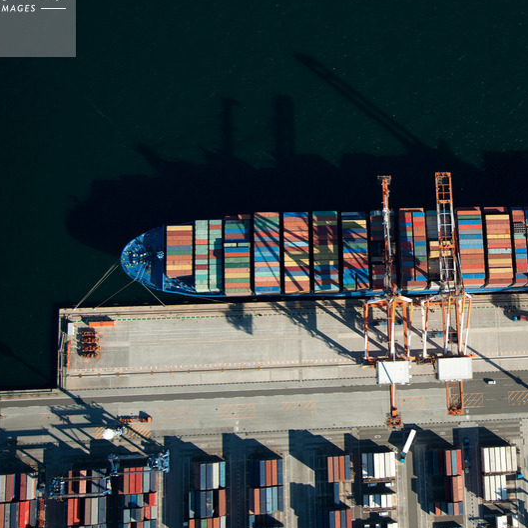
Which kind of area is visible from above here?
port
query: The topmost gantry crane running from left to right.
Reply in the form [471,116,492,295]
[109,447,180,476]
